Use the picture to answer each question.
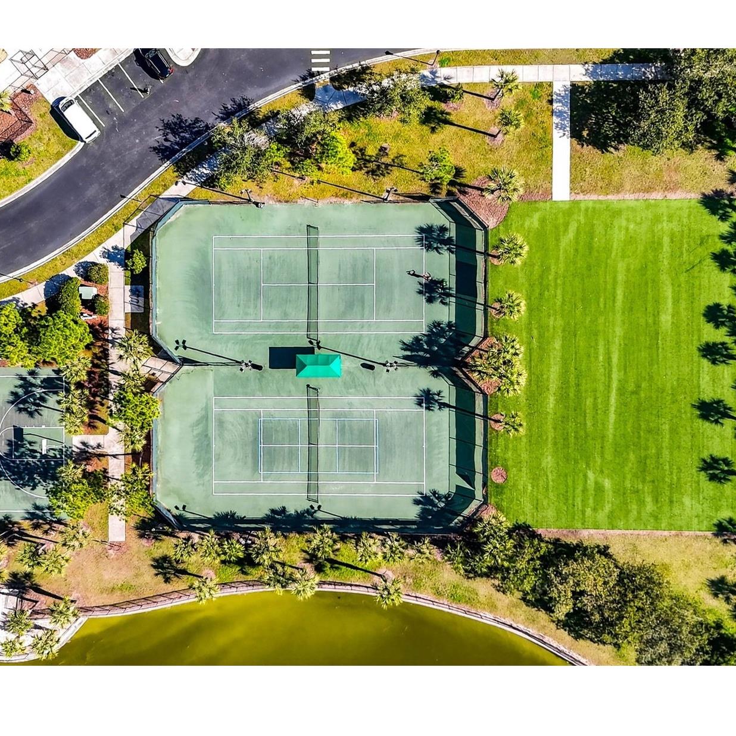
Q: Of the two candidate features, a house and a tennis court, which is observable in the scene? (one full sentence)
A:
Of the two, only a tennis court appears.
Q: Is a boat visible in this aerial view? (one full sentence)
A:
No, no boat is visible in the scene.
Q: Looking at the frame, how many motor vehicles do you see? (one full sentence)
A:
Looking from above, you can make out 2 motor vehicles.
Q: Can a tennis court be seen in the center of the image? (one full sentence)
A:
Yes, a tennis court shows up in the center of the image.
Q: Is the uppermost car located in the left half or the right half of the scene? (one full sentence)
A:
The uppermost car appears in the left half of the scene.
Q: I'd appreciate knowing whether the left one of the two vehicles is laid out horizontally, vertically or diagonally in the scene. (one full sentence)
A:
The left one of the two vehicles runs diagonally in the image.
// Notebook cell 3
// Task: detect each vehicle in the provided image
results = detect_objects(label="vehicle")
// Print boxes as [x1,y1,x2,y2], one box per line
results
[140,40,175,84]
[63,100,101,146]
